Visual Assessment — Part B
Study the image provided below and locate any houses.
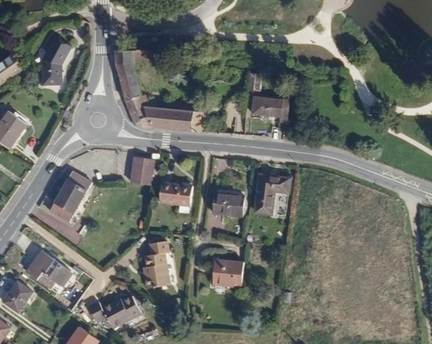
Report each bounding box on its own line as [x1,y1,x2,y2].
[140,240,172,288]
[140,106,195,134]
[2,280,35,314]
[254,95,290,126]
[158,180,194,214]
[66,325,100,344]
[254,170,294,216]
[212,182,246,218]
[130,155,156,186]
[42,38,72,86]
[0,110,29,148]
[0,316,15,340]
[212,258,246,288]
[32,168,94,244]
[86,291,145,331]
[0,54,24,87]
[28,248,69,290]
